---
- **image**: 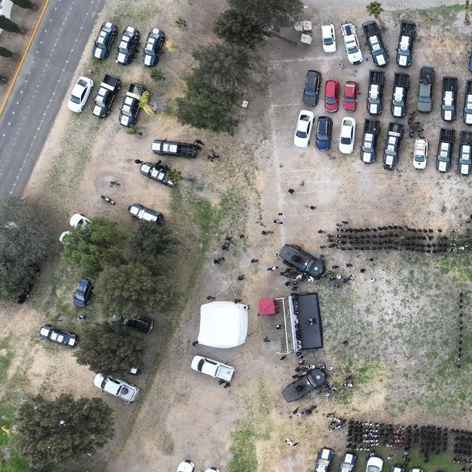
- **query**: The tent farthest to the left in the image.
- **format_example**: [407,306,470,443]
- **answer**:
[198,283,257,368]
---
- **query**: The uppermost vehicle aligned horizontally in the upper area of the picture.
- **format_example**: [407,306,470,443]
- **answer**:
[151,139,200,159]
